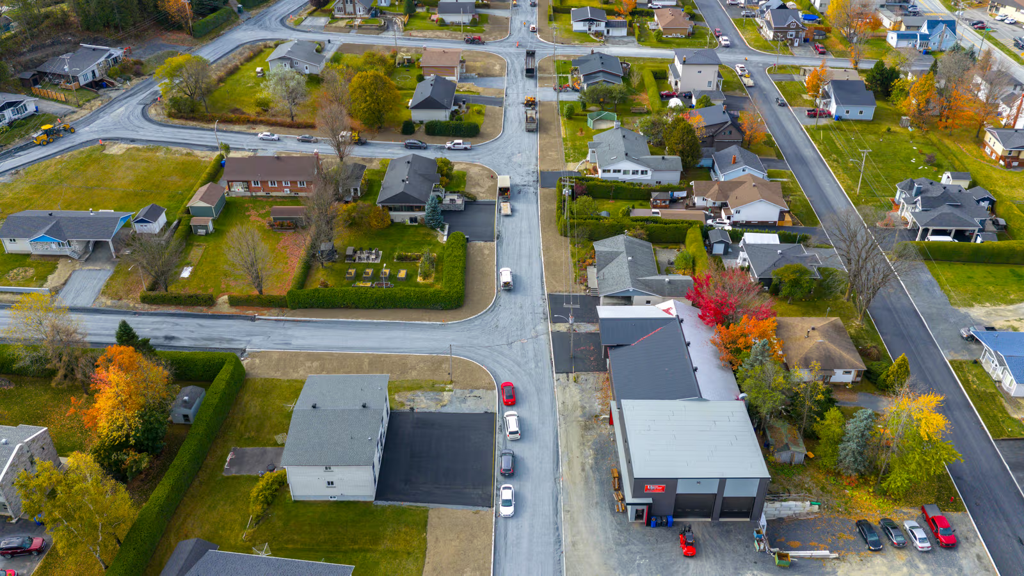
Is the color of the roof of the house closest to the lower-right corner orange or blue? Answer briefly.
blue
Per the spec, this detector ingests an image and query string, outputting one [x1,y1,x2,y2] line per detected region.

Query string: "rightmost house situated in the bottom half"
[967,329,1024,403]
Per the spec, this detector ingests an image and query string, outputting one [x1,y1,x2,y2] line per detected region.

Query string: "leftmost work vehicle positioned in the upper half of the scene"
[32,124,75,148]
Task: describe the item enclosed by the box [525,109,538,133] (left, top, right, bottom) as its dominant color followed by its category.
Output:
gray vehicle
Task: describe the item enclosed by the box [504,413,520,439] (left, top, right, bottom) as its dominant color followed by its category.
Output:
white car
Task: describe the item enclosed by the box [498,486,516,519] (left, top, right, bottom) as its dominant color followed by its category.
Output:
white car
